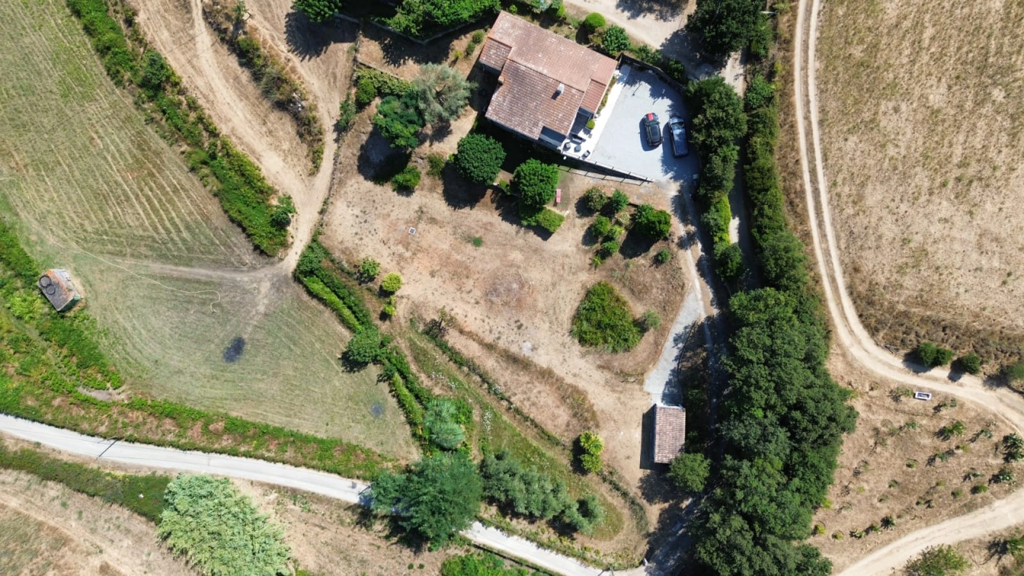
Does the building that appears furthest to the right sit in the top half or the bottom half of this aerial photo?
bottom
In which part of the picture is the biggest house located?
top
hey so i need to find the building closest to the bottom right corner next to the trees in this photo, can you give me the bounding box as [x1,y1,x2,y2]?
[651,403,686,465]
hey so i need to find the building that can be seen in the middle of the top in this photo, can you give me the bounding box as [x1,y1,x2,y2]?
[478,13,617,153]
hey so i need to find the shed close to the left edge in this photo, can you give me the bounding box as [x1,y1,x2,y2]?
[37,269,85,311]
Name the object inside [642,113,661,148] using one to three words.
car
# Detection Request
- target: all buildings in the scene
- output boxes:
[651,403,686,465]
[37,269,85,311]
[478,13,617,153]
